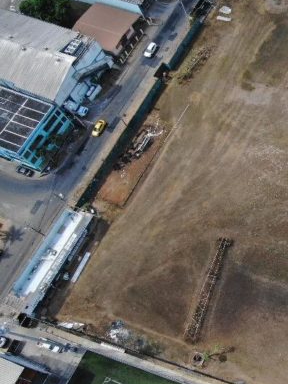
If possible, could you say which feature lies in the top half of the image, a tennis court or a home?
home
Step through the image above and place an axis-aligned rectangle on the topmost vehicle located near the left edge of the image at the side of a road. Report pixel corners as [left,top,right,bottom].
[13,164,34,177]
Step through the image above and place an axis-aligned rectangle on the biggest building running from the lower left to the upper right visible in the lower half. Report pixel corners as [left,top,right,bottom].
[12,211,93,301]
